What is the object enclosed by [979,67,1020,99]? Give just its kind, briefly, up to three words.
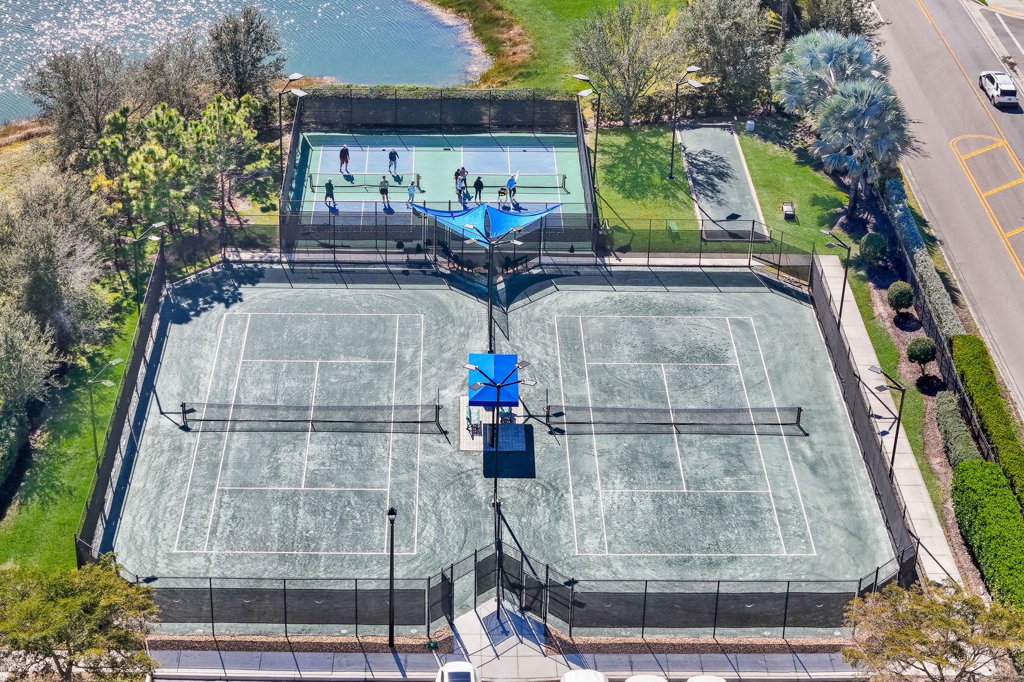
car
